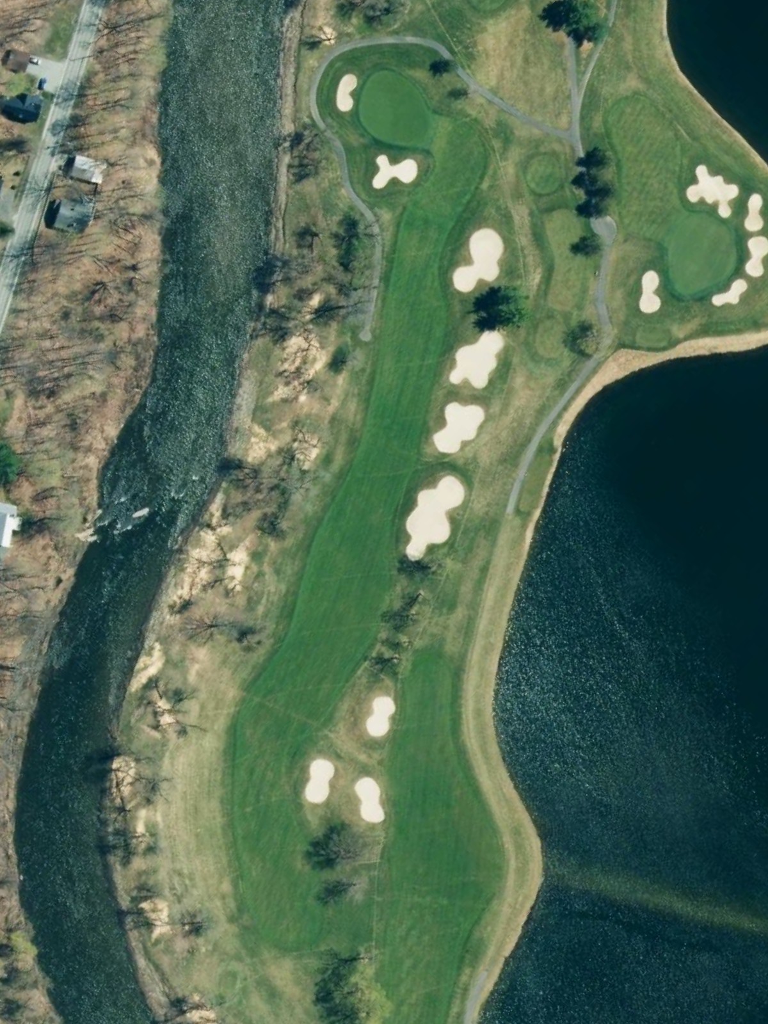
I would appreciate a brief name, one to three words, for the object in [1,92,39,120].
house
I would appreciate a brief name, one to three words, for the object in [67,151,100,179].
house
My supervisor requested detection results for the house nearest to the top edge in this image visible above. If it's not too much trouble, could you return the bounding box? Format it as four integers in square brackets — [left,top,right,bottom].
[5,47,29,70]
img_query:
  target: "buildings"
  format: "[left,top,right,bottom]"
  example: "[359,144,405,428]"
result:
[0,504,21,550]
[57,197,91,228]
[5,47,29,70]
[1,92,39,120]
[67,151,100,179]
